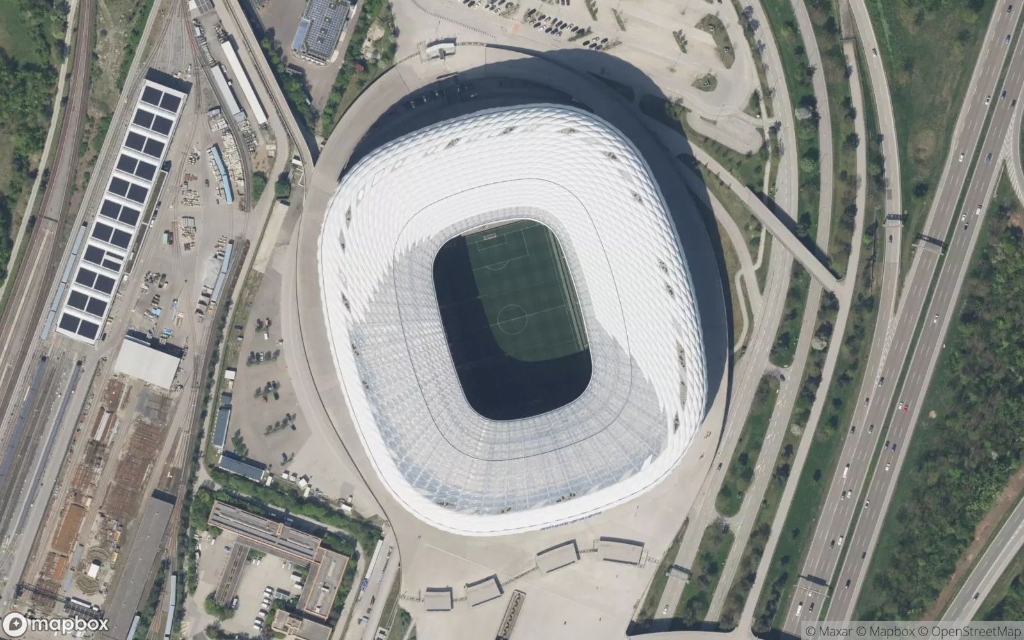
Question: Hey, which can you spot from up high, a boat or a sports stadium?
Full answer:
I can see a sports stadium in this picture.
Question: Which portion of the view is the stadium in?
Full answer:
The stadium is in the center part of the image.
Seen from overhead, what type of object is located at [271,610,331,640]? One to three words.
building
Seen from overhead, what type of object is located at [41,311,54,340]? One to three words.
rail car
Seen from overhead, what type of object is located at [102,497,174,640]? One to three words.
shed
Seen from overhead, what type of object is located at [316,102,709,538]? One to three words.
stadium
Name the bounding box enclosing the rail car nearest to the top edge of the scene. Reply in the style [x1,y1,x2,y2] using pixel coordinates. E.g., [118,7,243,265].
[213,147,226,175]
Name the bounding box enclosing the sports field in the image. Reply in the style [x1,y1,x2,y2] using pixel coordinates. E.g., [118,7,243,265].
[435,219,590,420]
